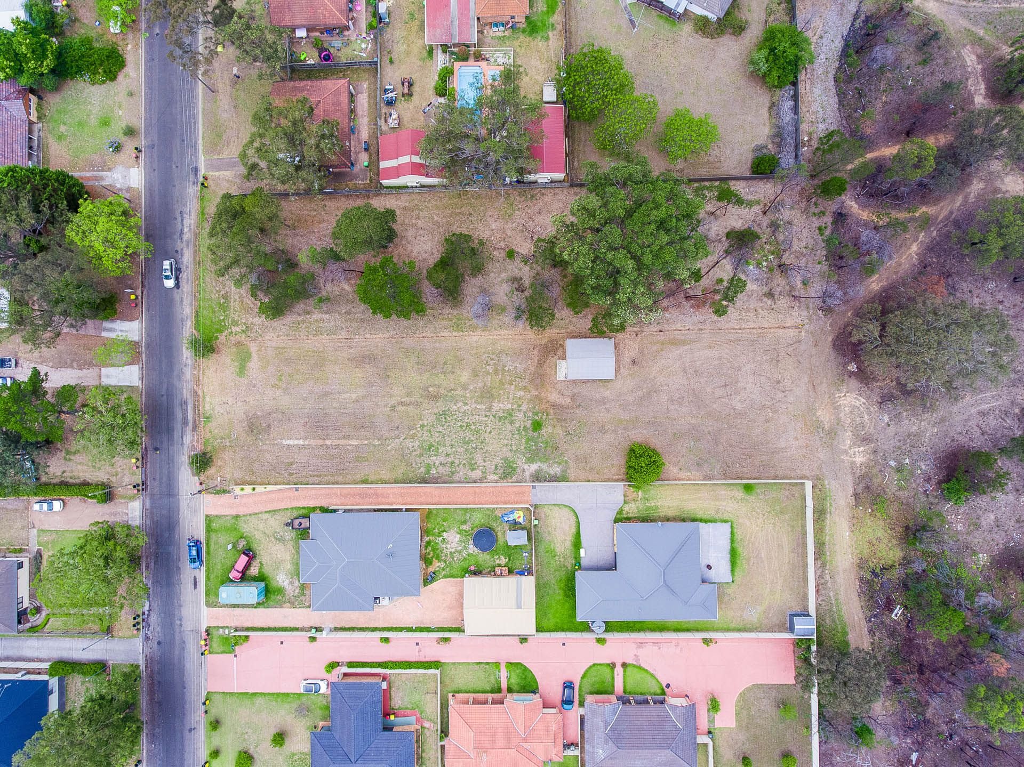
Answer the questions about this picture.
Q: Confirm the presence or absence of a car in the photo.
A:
Yes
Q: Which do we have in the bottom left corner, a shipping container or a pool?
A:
shipping container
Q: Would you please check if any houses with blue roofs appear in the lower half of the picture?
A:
Yes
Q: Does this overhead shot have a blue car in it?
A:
Yes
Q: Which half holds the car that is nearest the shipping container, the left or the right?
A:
left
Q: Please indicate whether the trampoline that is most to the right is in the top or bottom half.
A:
bottom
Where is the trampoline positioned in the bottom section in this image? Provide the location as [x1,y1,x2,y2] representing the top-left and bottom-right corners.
[473,530,496,553]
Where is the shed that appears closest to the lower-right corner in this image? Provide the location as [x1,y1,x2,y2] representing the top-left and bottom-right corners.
[790,613,815,636]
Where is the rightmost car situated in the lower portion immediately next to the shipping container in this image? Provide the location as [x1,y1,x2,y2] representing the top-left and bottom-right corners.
[229,552,251,582]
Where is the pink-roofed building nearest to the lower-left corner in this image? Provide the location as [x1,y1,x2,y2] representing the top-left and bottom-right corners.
[444,698,564,767]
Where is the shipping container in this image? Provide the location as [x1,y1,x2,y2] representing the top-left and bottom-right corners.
[217,579,263,605]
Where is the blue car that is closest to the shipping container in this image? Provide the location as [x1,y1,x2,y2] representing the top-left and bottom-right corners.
[184,536,201,570]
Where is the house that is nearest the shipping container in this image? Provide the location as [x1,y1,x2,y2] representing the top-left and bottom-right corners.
[299,510,421,612]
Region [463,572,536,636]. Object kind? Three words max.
building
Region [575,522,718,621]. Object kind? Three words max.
house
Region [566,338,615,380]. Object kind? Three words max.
shed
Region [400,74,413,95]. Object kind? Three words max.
vehicle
